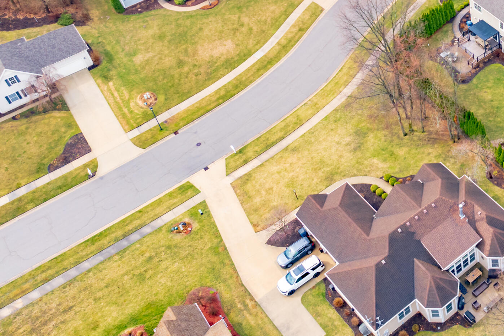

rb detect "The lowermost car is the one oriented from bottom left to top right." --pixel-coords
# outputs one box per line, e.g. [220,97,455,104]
[278,256,325,297]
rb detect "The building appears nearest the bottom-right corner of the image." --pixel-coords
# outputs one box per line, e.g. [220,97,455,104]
[291,156,504,336]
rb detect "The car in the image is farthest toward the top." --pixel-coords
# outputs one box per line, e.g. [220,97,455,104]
[275,235,318,273]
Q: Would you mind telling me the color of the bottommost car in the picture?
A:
white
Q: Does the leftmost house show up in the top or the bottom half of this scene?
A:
top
